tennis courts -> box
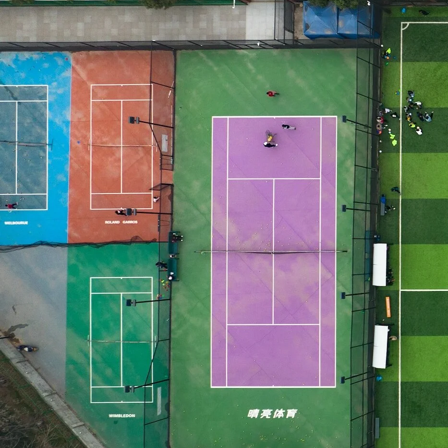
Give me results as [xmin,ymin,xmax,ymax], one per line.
[0,52,72,244]
[66,244,172,448]
[170,49,371,448]
[68,50,176,243]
